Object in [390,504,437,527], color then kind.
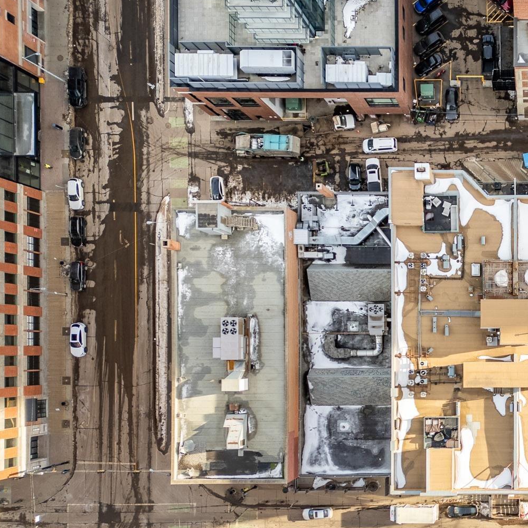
white truck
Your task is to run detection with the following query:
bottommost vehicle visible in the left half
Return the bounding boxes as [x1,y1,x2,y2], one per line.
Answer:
[69,323,88,357]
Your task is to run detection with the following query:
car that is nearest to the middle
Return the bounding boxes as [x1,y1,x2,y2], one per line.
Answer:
[208,172,226,203]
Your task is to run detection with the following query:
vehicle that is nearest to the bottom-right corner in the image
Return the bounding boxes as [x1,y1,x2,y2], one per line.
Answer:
[447,503,478,519]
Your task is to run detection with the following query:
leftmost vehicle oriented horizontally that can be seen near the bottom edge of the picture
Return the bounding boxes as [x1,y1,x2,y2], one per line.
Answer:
[302,506,333,522]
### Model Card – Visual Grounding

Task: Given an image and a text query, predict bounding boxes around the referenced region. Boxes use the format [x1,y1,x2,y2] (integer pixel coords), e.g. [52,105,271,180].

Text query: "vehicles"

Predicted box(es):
[414,51,444,78]
[302,506,333,522]
[365,157,382,191]
[66,66,87,108]
[491,0,514,13]
[390,504,437,527]
[412,28,447,59]
[67,260,88,293]
[68,216,88,248]
[69,323,88,357]
[67,178,86,209]
[345,161,362,191]
[68,126,88,160]
[363,136,398,154]
[208,172,226,203]
[317,113,356,129]
[415,5,448,36]
[412,0,442,15]
[231,132,302,155]
[447,503,478,519]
